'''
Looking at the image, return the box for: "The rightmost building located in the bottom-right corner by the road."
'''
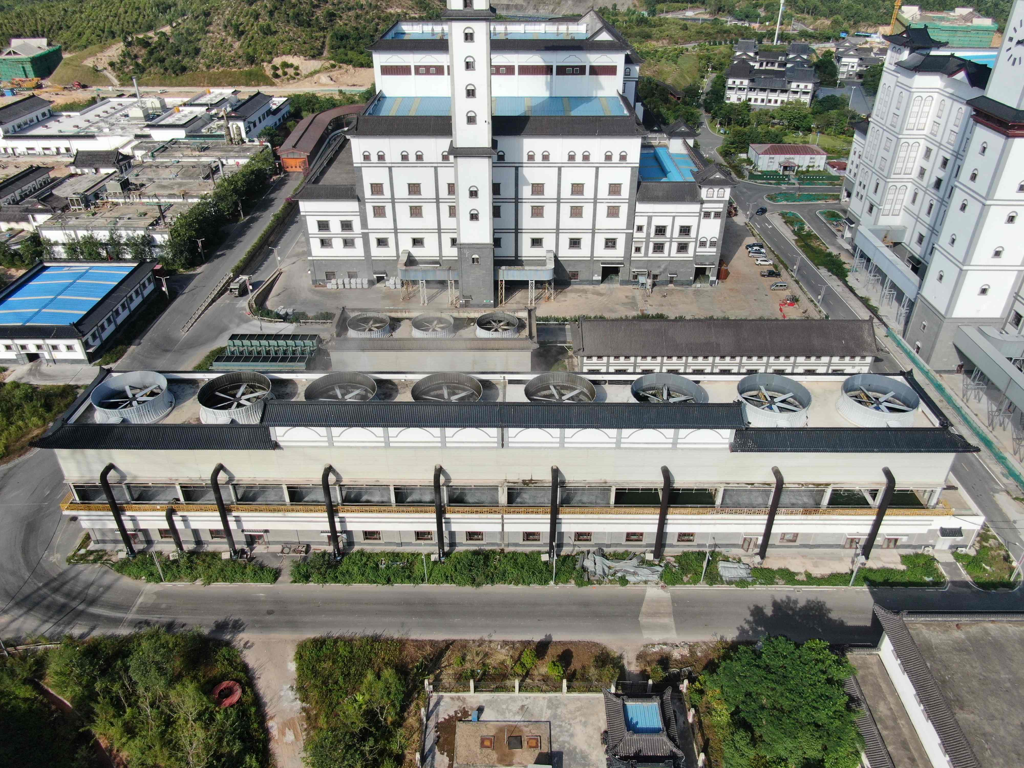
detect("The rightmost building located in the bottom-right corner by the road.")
[823,591,1024,768]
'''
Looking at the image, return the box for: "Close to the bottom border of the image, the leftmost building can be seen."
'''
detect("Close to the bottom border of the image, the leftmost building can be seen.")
[599,680,692,768]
